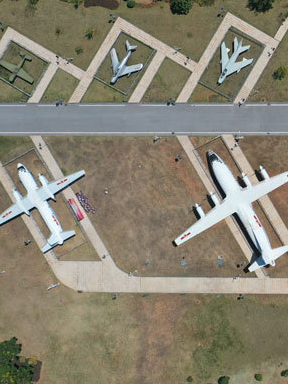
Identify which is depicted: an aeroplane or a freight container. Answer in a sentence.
The one in the frame is an aeroplane.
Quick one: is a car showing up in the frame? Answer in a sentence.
No, there appears to be no car in this shot.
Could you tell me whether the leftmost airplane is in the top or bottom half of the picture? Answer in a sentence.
It is in the top half that the leftmost airplane appears.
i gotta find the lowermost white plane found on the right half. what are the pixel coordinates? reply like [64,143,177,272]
[172,150,288,273]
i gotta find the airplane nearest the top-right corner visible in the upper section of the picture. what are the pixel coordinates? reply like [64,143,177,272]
[217,35,252,86]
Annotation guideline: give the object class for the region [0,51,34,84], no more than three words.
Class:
airplane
